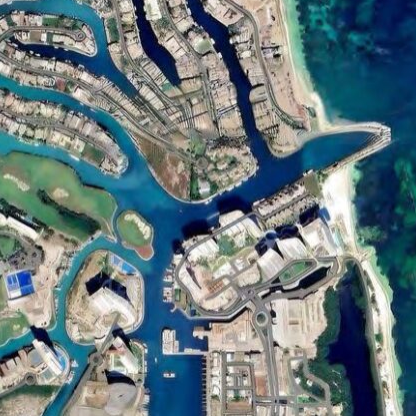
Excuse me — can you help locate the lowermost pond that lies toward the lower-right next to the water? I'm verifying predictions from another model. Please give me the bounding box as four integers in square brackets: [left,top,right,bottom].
[325,263,378,416]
